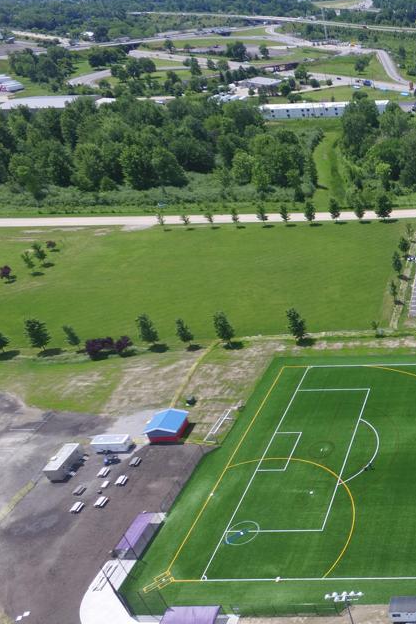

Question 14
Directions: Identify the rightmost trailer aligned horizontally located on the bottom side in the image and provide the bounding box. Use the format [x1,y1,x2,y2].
[90,434,134,454]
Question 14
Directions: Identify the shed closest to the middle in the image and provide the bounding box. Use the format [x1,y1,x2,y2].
[140,405,190,443]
